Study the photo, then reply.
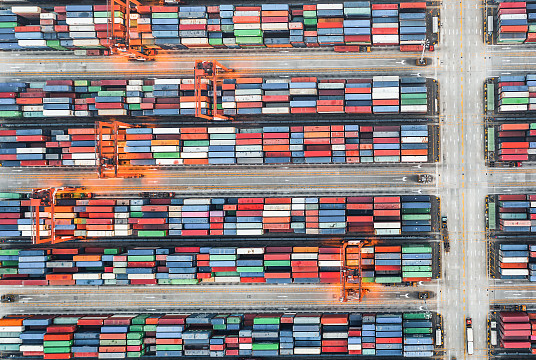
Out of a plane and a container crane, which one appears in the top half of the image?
container crane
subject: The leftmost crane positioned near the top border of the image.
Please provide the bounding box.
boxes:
[106,0,157,60]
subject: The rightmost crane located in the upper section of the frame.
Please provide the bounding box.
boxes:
[194,59,236,120]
